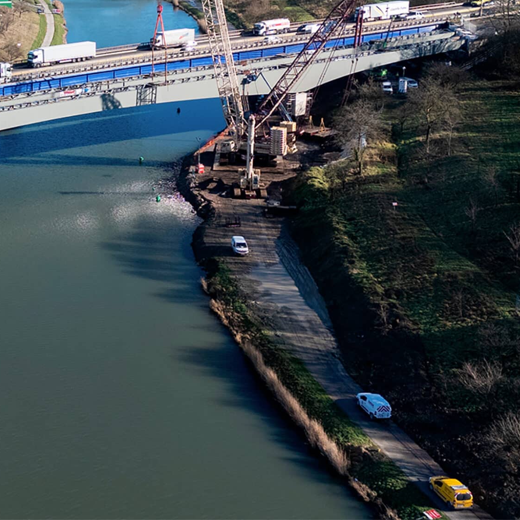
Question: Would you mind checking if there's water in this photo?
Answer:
Yes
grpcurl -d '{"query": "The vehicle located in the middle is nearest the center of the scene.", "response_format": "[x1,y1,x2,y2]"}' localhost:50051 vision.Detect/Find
[229,232,254,255]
